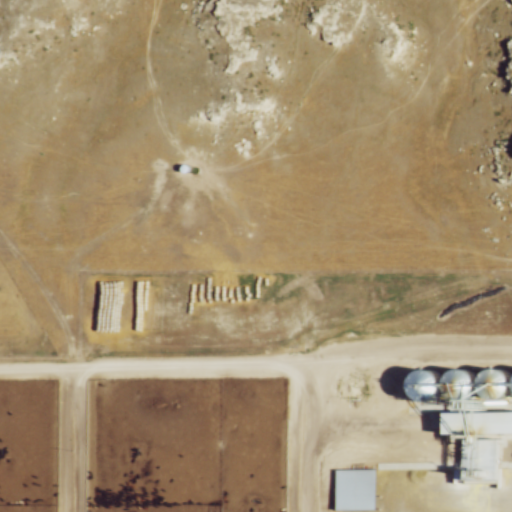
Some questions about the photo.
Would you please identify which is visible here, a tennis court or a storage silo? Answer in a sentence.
Looking from above, you can make out a storage silo.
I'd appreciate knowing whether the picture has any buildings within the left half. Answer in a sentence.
No, there is no building within the left half.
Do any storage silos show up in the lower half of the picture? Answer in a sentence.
Yes, looking in the lower half of the picture, one can make out a storage silo.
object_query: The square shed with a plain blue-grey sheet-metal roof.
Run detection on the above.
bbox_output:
[336,470,376,511]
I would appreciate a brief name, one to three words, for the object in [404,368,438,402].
silo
